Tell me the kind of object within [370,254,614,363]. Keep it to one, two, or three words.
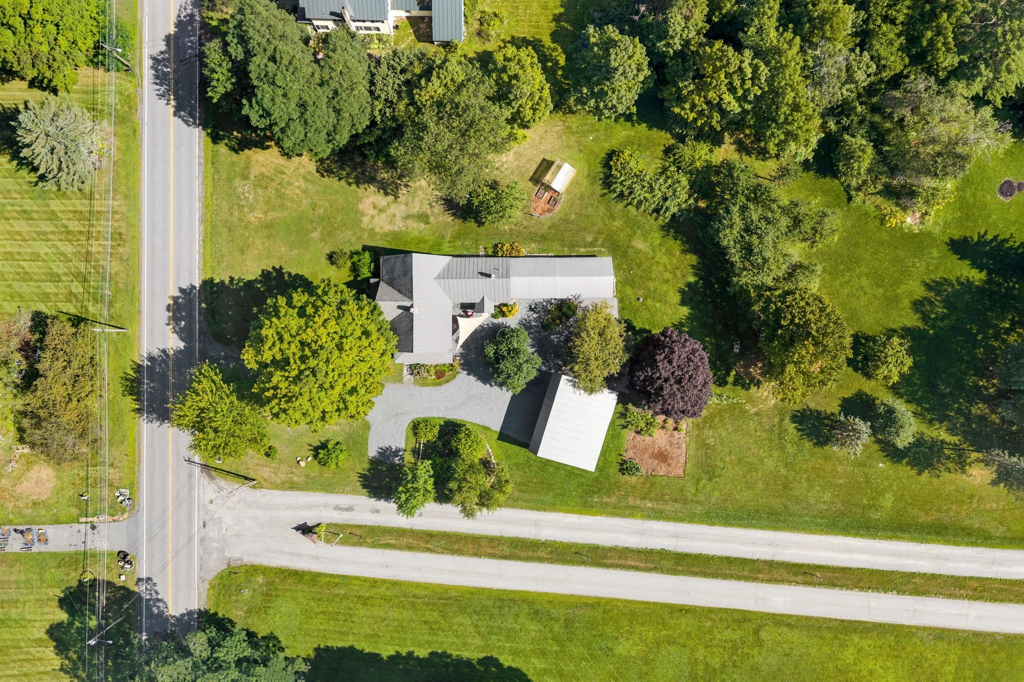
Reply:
house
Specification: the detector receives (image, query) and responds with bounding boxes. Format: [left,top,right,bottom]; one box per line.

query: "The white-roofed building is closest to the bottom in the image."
[528,373,618,472]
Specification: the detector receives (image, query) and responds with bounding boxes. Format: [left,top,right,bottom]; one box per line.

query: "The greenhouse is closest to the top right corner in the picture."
[543,158,576,195]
